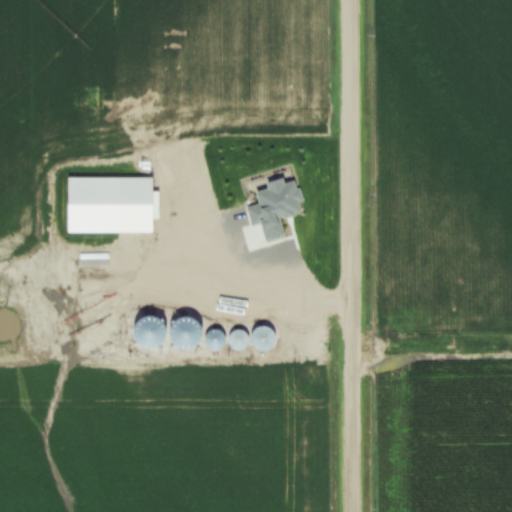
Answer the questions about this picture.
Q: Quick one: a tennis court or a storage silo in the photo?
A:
storage silo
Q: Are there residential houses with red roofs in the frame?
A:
No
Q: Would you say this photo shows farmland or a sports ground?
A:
farmland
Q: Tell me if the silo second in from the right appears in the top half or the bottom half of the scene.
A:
bottom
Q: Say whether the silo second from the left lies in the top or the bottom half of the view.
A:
bottom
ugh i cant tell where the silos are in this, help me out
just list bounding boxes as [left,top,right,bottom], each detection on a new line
[252,326,276,354]
[170,317,202,354]
[134,316,166,353]
[206,330,225,354]
[230,330,249,353]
